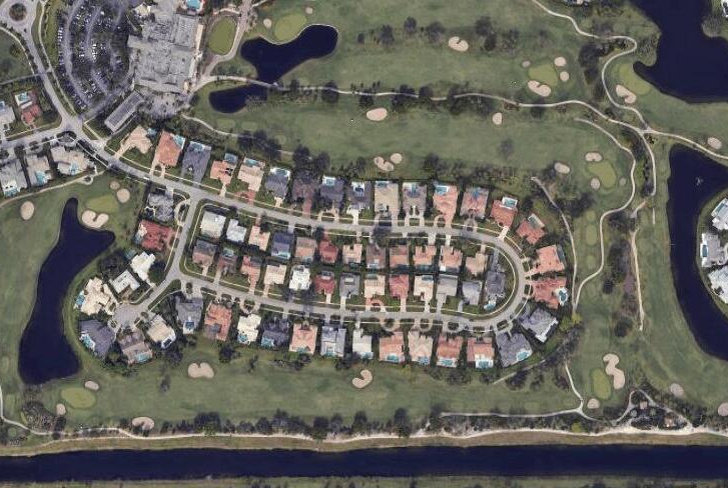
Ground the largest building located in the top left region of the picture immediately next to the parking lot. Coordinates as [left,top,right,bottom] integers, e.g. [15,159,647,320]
[128,3,199,95]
